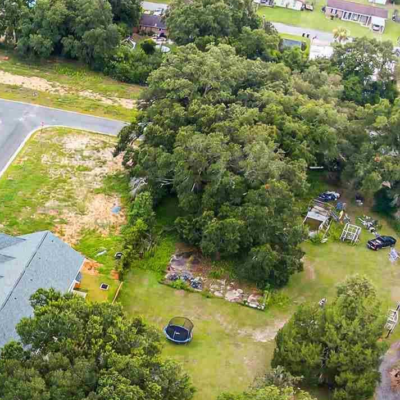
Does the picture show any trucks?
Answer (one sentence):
No, the photo shows no truck.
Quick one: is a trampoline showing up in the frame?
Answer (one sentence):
Yes, a trampoline appears in the view.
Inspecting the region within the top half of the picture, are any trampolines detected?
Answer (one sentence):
No, within the top half of the picture there is no trampoline.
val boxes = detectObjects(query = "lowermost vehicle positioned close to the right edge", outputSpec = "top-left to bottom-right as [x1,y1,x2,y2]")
[365,237,398,251]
